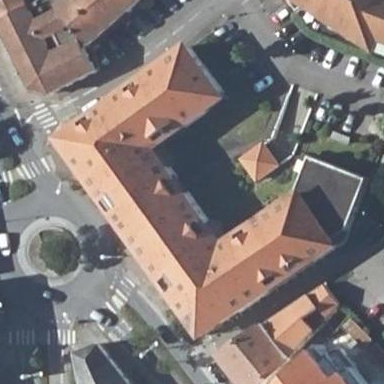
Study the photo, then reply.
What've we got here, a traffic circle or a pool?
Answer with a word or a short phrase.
traffic circle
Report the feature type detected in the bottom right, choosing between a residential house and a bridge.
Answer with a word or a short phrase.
residential house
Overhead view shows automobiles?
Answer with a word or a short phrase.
Yes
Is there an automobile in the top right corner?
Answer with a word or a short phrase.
Yes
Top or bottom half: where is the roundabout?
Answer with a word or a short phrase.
bottom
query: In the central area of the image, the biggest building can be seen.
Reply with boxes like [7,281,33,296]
[48,41,337,341]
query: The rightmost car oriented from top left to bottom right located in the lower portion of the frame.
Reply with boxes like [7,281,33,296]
[158,324,178,344]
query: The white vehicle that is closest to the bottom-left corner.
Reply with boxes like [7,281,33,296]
[92,311,112,326]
